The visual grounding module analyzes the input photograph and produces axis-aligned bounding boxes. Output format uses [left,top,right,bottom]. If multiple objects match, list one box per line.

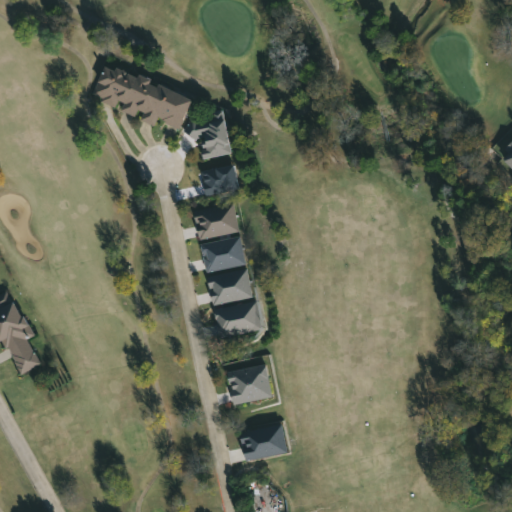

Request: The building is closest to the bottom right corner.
[240,421,289,461]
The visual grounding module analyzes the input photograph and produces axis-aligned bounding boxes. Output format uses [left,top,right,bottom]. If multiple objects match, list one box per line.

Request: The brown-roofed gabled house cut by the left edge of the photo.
[0,288,42,374]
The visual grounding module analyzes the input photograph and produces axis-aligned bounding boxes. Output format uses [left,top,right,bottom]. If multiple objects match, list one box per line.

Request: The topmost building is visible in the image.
[94,64,192,129]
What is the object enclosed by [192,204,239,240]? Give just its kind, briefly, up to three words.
house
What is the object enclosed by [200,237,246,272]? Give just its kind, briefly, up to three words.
house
